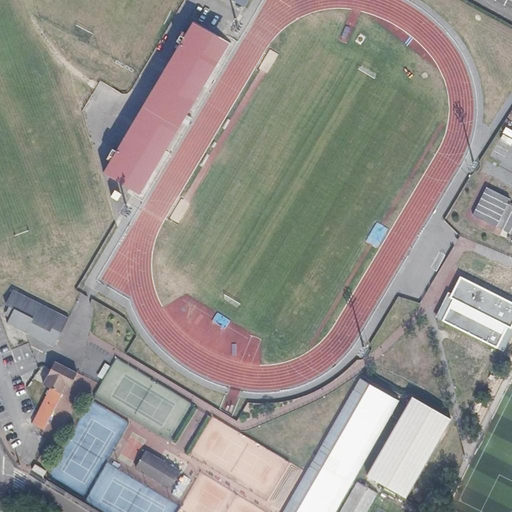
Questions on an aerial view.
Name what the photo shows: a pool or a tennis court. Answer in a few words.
tennis court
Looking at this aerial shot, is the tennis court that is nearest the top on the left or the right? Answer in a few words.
left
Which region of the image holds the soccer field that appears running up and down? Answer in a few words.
bottom right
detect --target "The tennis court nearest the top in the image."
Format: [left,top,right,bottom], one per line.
[95,357,193,440]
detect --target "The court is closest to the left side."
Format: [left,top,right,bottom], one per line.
[48,402,127,496]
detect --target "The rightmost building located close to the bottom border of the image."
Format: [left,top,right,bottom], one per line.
[368,398,450,498]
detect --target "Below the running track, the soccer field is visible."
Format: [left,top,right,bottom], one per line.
[449,382,512,512]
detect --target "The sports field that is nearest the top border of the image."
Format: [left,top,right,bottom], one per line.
[152,8,449,364]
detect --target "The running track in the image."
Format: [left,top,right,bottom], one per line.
[100,0,474,390]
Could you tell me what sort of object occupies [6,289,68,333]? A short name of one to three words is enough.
building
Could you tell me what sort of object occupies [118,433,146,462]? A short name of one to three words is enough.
sports court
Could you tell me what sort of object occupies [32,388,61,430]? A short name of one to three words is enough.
shed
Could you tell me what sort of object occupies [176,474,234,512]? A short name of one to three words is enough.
tennis court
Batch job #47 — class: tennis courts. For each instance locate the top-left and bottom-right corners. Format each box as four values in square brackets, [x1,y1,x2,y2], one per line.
[95,357,193,440]
[48,402,127,496]
[190,418,290,499]
[87,462,178,512]
[226,495,267,512]
[176,474,234,512]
